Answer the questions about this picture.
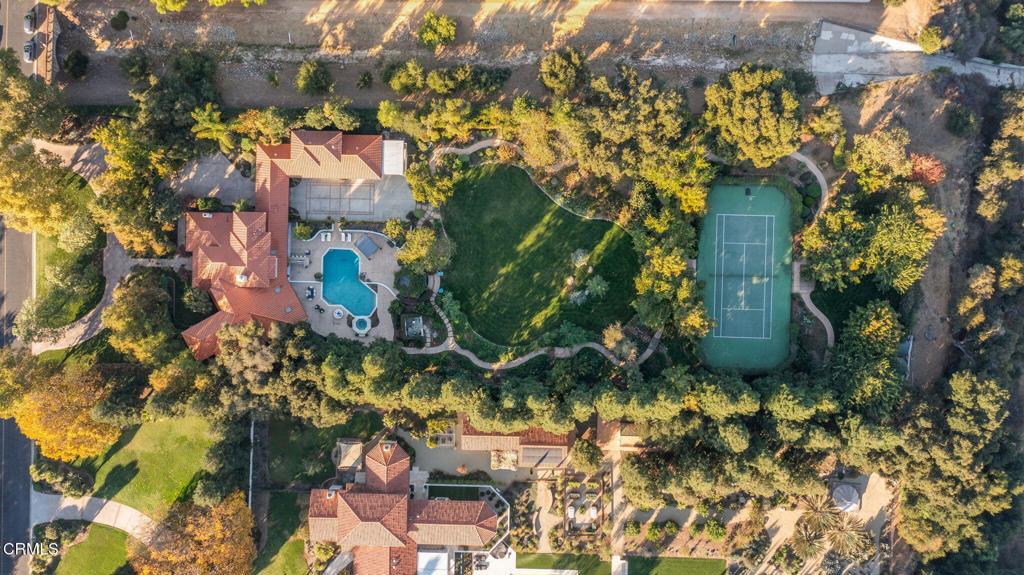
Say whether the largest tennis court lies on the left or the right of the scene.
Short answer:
right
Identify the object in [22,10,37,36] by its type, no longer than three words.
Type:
car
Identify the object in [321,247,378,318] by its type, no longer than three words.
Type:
swimming pool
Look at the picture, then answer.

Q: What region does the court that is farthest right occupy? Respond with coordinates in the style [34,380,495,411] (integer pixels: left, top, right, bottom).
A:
[699,183,794,369]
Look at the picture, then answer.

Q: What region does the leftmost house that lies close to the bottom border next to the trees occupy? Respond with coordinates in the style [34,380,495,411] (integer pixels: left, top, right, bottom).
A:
[307,439,497,575]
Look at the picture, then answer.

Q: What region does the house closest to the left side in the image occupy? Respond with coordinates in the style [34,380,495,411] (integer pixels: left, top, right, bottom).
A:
[181,131,382,360]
